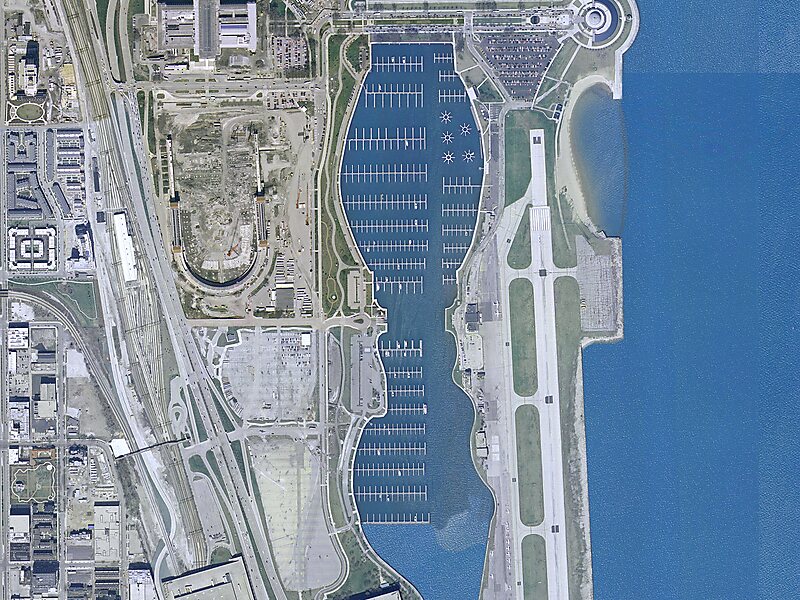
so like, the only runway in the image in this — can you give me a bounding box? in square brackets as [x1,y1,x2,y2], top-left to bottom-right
[530,208,569,600]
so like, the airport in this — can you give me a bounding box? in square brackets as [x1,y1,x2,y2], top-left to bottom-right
[478,111,623,600]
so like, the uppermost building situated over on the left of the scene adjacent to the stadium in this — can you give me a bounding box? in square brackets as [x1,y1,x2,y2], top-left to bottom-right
[158,0,256,65]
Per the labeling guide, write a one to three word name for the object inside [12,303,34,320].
building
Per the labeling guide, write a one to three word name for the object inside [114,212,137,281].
shed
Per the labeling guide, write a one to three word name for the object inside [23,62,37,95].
building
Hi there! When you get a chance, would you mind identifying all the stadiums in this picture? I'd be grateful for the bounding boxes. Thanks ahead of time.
[166,106,269,300]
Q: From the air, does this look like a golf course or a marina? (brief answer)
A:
marina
